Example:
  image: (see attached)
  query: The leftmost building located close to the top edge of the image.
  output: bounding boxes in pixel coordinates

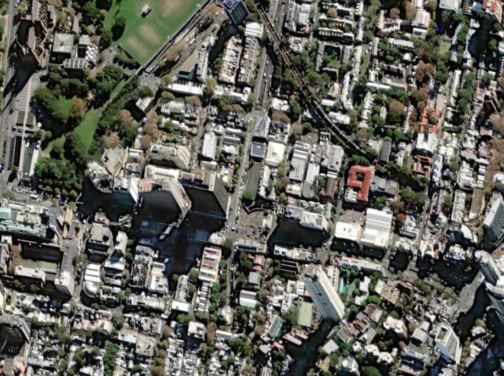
[22,2,57,67]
